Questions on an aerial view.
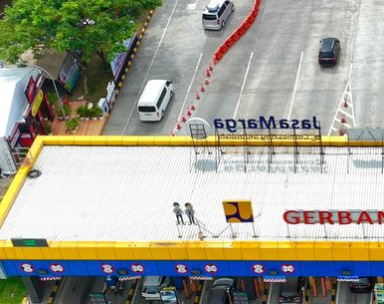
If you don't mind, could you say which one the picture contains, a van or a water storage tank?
van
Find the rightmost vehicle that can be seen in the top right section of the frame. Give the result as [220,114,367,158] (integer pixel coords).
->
[319,30,344,63]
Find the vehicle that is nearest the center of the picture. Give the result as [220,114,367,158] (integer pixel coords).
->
[138,72,173,117]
